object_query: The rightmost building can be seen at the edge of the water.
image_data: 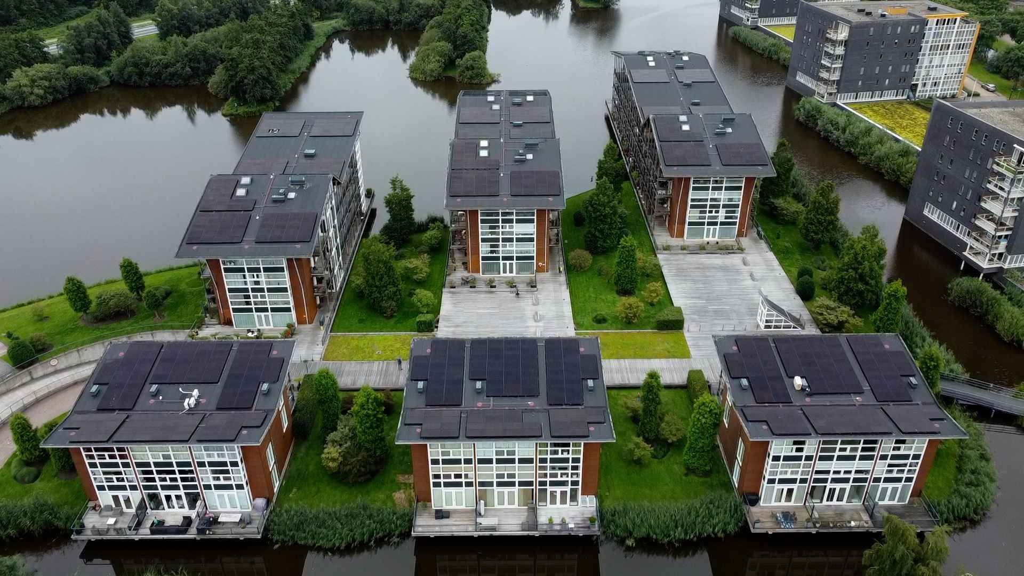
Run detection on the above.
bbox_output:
[904,90,1024,276]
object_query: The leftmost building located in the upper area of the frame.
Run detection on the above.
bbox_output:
[176,110,374,346]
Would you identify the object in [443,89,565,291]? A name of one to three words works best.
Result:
building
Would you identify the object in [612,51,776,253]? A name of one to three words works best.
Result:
building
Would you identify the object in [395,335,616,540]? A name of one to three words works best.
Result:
house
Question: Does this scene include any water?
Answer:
Yes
